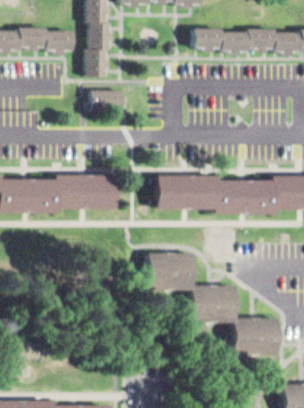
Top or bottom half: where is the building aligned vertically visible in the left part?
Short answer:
top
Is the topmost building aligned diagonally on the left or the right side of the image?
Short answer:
right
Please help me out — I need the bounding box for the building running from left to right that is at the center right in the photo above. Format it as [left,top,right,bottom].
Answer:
[152,174,304,214]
